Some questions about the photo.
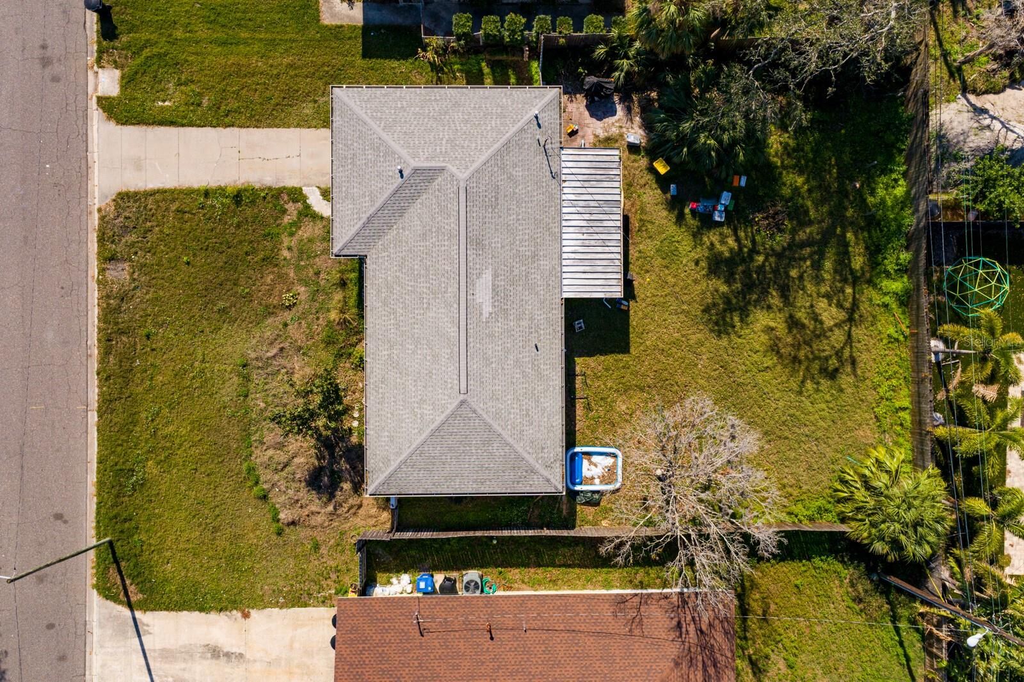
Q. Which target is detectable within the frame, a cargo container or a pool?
pool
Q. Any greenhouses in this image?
No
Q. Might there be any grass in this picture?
Yes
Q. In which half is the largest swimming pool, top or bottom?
bottom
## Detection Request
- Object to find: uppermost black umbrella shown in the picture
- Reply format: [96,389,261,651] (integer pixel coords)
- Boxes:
[583,76,614,100]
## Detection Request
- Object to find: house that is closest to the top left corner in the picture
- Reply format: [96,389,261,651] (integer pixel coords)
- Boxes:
[330,84,564,509]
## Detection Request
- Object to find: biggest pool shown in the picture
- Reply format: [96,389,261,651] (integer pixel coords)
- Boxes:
[567,447,621,490]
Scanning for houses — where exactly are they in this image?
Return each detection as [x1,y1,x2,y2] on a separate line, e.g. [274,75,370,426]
[330,84,564,509]
[335,586,738,682]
